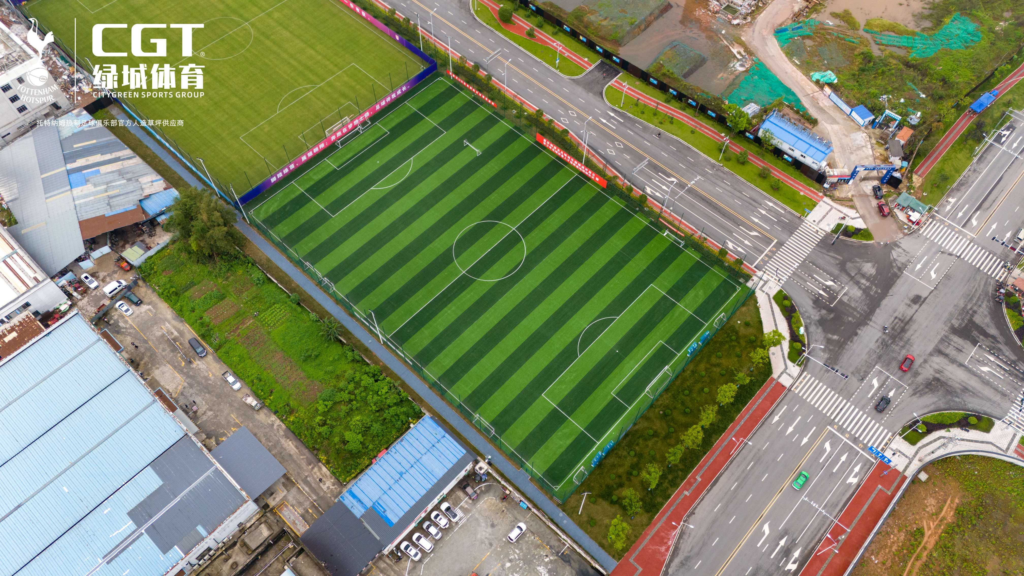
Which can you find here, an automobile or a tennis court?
automobile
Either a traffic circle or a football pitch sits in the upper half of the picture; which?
football pitch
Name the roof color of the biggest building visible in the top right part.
blue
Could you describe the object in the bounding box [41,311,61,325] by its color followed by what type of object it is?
red vehicle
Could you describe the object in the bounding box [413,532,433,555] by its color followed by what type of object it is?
white car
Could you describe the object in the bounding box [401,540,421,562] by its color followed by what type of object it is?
white car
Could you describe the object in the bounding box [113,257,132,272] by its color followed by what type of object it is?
red vehicle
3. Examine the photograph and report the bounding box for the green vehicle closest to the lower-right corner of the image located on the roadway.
[792,471,809,492]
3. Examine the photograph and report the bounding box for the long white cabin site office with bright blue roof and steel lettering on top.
[758,110,833,169]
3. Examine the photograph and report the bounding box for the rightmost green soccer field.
[237,67,754,502]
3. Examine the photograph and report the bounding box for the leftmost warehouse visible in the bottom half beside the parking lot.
[0,308,255,576]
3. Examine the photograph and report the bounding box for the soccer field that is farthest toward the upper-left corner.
[17,0,430,204]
